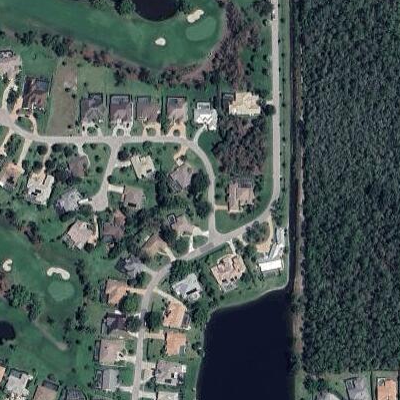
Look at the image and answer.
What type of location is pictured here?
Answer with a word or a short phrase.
residential area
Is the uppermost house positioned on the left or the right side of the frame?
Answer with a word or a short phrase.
left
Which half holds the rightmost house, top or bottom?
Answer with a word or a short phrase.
bottom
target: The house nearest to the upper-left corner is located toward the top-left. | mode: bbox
[0,50,21,78]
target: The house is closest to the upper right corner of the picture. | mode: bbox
[227,91,260,115]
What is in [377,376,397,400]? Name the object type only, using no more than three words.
house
